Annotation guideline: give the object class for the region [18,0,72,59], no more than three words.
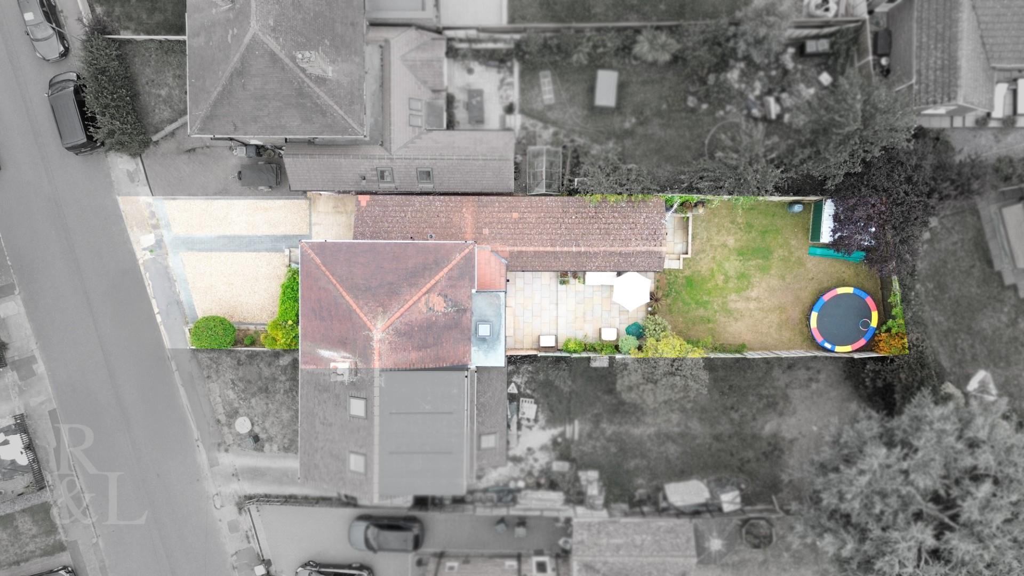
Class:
car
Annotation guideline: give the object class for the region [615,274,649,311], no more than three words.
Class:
umbrella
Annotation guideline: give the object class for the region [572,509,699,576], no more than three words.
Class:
shed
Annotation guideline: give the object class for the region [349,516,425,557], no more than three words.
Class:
car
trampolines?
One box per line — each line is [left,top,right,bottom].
[802,284,878,354]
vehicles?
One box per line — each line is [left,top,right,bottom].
[45,74,104,159]
[295,560,372,576]
[18,0,72,59]
[349,516,425,557]
[9,566,72,576]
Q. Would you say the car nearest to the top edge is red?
No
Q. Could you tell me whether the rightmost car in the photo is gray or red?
gray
